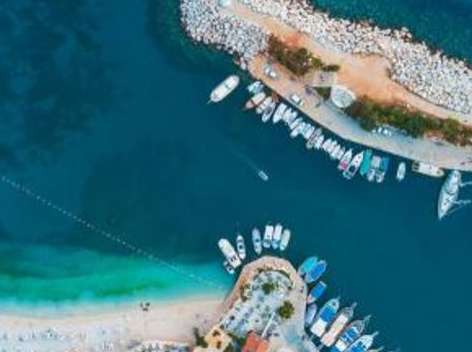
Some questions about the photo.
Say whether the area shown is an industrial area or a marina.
marina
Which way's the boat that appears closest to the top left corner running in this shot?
at an angle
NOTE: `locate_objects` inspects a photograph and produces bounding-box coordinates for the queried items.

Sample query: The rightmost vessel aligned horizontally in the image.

[412,162,446,176]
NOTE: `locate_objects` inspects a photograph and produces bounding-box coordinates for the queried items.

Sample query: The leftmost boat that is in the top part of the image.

[206,73,241,101]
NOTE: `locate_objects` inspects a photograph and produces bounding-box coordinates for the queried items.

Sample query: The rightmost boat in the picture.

[438,169,470,218]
